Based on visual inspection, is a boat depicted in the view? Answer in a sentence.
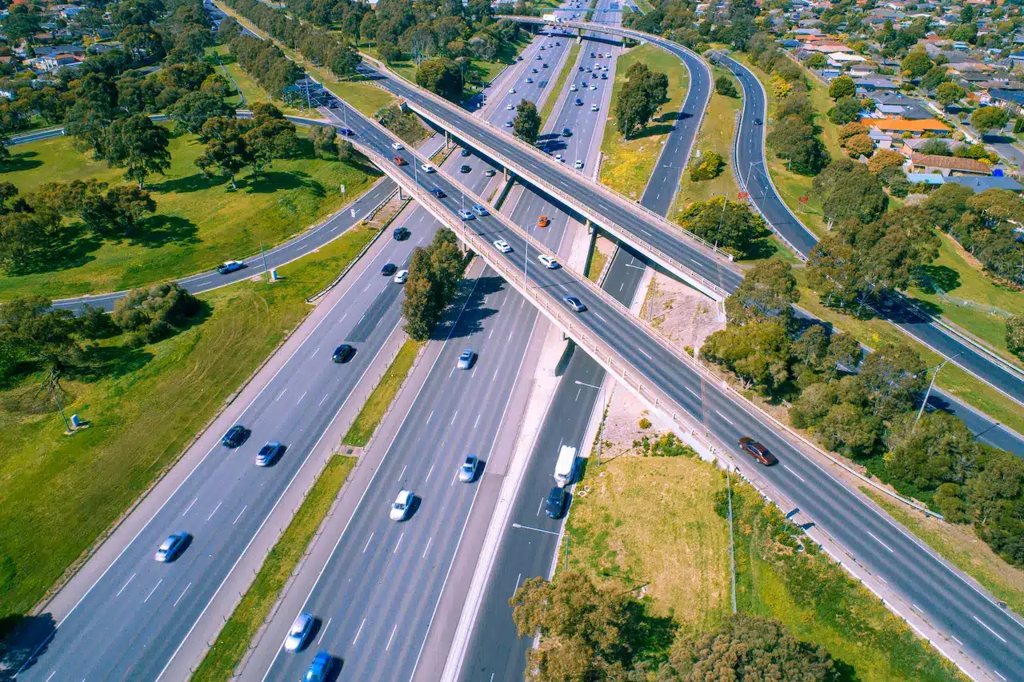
No, the scene contains no boat.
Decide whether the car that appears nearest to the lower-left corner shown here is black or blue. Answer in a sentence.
From above, the car that appears nearest to the lower-left corner appears blue.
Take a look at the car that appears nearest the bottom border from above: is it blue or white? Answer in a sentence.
From above, the car that appears nearest the bottom border appears blue.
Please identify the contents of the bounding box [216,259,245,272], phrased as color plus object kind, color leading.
blue vehicle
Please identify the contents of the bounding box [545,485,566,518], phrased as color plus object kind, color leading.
blue car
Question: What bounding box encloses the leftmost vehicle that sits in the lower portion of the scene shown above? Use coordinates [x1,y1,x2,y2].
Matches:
[152,532,189,566]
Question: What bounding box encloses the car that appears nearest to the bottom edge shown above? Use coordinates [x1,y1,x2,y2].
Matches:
[303,648,335,682]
